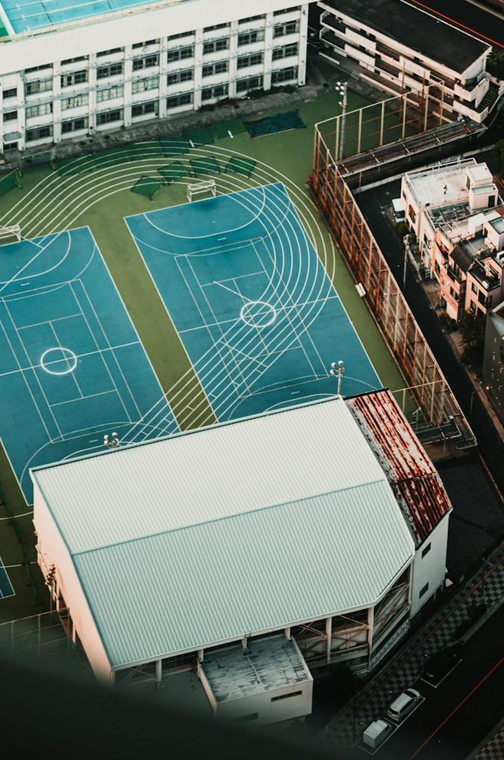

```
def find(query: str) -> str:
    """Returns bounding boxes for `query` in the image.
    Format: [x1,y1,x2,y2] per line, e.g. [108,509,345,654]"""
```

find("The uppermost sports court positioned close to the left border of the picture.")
[0,226,179,505]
